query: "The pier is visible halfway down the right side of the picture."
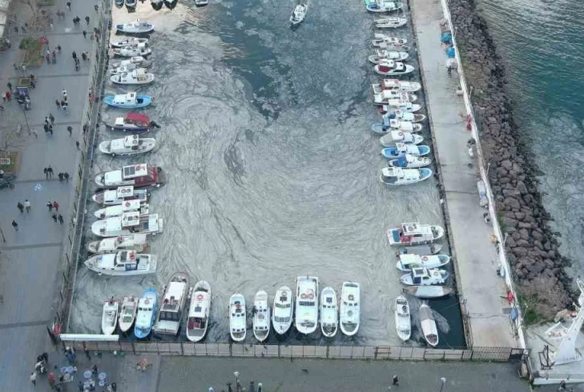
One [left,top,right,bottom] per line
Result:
[405,0,521,356]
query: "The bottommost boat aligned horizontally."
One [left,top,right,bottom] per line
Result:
[403,283,453,302]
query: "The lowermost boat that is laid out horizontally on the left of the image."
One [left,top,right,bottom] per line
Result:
[82,248,159,281]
